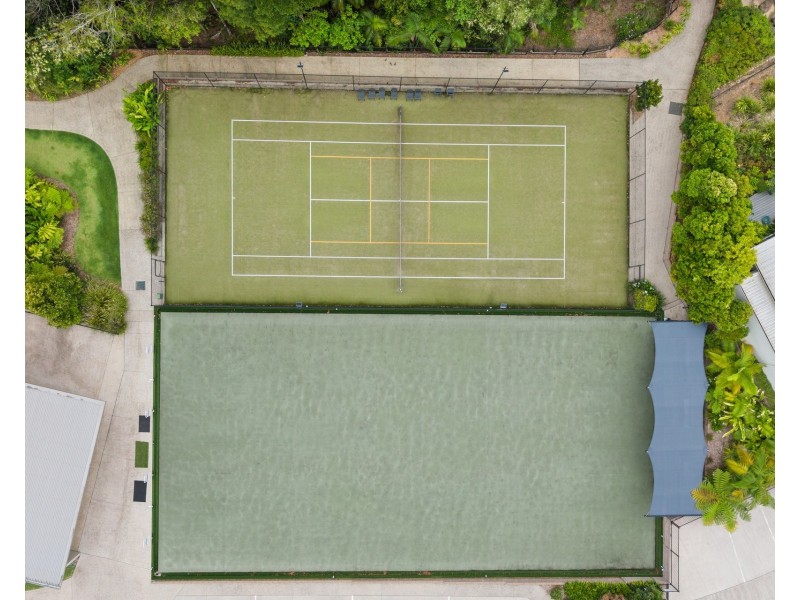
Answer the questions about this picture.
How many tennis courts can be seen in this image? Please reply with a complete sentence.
Only 1 tennis court is visible.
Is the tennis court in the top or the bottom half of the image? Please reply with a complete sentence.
The tennis court is in the top half of the image.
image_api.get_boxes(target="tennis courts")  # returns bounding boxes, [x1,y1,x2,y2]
[163,87,630,308]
